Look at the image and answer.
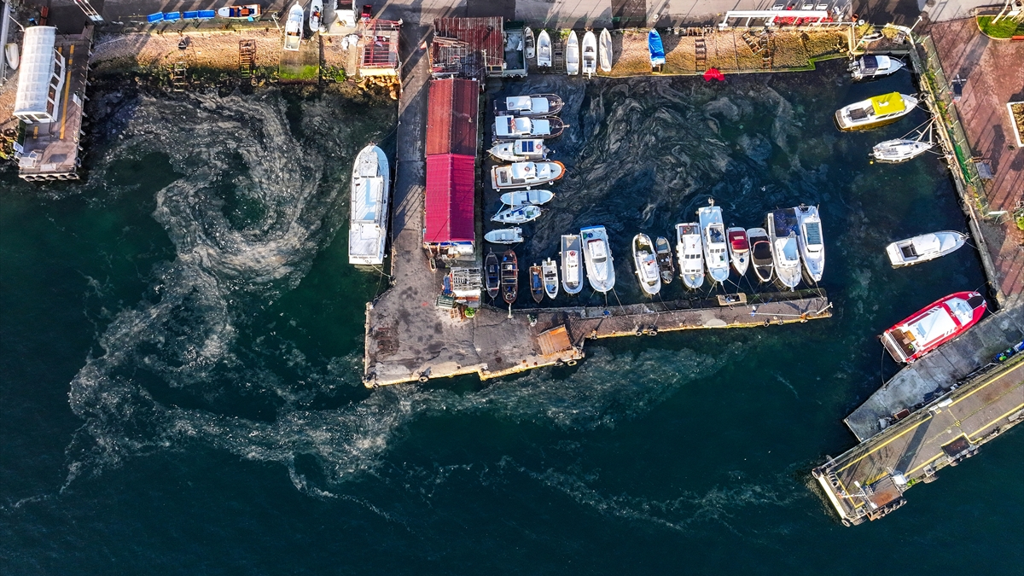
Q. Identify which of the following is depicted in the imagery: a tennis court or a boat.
boat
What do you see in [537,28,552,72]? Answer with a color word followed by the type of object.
white boat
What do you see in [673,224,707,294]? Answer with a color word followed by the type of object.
white boat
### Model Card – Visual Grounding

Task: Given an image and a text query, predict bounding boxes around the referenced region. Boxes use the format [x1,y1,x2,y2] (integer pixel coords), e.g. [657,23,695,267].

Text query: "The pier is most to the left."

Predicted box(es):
[18,31,96,183]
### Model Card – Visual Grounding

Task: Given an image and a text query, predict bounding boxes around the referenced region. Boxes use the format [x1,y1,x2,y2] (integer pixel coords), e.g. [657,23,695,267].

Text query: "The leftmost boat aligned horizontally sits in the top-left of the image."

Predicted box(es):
[218,4,261,20]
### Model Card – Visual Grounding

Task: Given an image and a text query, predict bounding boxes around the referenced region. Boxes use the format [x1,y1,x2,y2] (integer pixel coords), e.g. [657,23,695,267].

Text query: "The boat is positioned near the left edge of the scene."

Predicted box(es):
[5,41,19,72]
